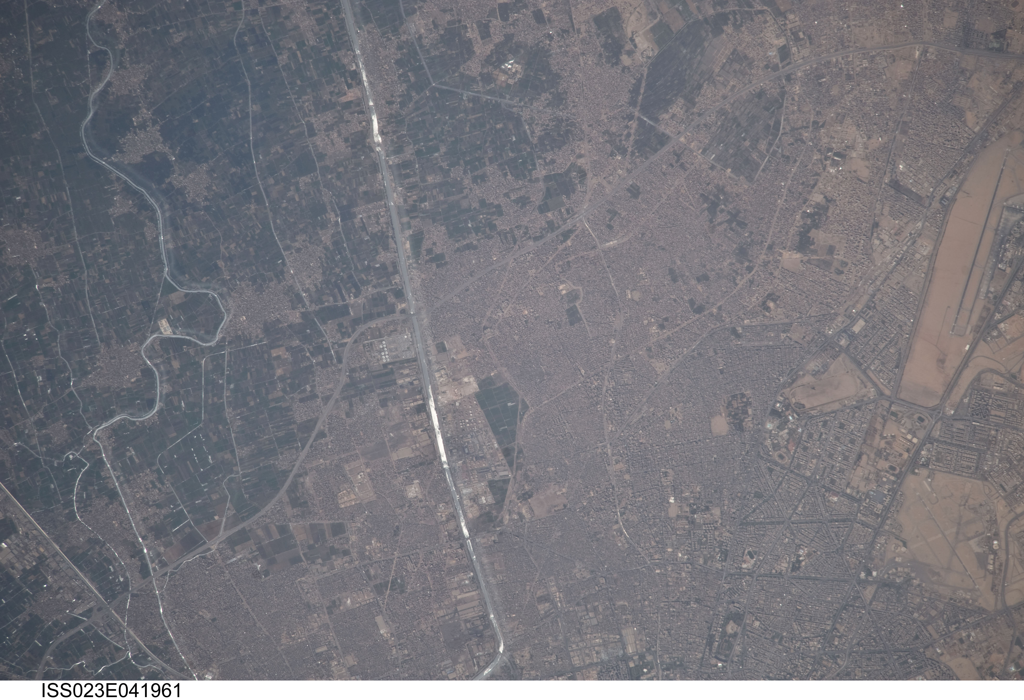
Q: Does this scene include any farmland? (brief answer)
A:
Yes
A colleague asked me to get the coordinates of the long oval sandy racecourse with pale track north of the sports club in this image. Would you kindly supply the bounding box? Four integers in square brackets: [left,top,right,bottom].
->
[789,372,858,412]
